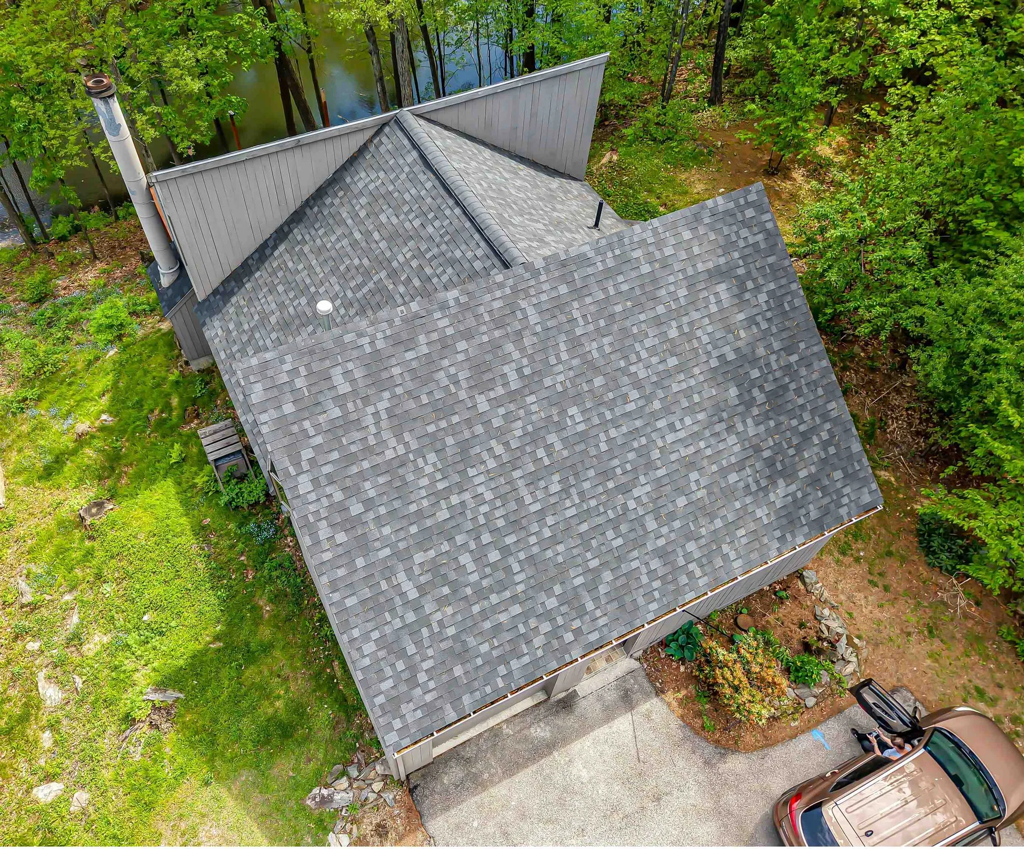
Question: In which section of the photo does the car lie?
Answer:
bottom right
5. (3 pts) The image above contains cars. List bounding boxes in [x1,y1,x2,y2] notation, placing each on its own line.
[770,689,1024,849]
